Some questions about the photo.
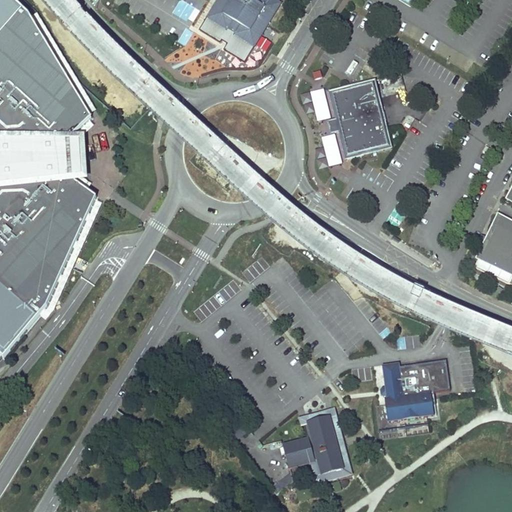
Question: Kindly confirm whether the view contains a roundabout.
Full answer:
Yes, there's a roundabout down there.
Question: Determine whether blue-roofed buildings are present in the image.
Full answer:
Yes, the frame does contain a blue-roofed building.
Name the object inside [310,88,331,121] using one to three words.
tent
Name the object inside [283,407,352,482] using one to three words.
house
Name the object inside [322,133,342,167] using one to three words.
tent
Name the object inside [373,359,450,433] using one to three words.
building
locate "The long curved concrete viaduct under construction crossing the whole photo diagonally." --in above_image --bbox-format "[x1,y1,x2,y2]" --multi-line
[39,0,512,356]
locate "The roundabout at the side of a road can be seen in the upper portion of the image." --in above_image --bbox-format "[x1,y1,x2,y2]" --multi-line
[166,82,304,225]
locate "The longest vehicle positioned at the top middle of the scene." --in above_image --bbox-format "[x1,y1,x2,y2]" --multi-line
[233,74,276,98]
